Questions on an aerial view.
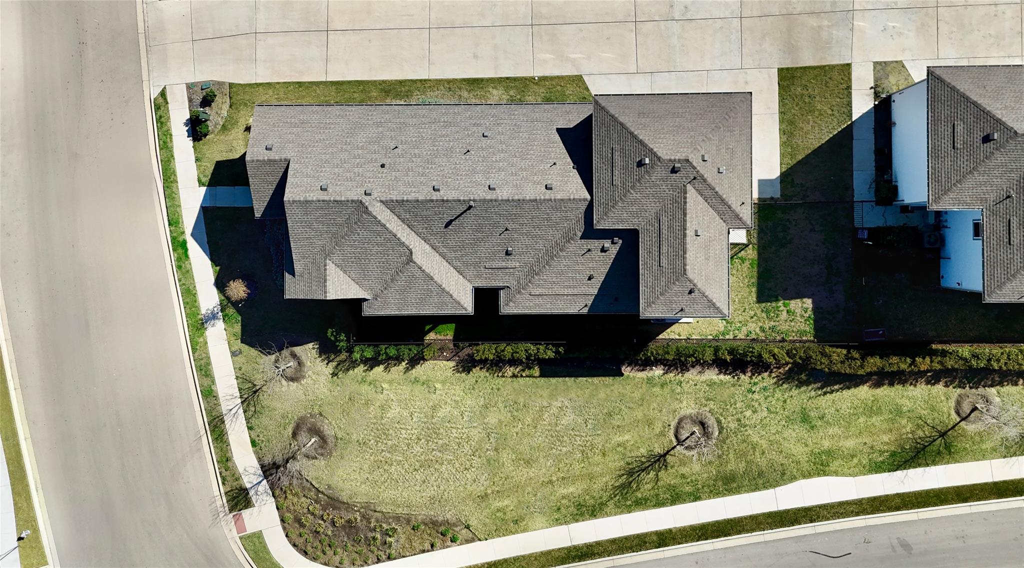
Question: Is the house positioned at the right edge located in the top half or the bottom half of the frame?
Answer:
top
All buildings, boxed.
[889,66,1024,302]
[246,93,753,318]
